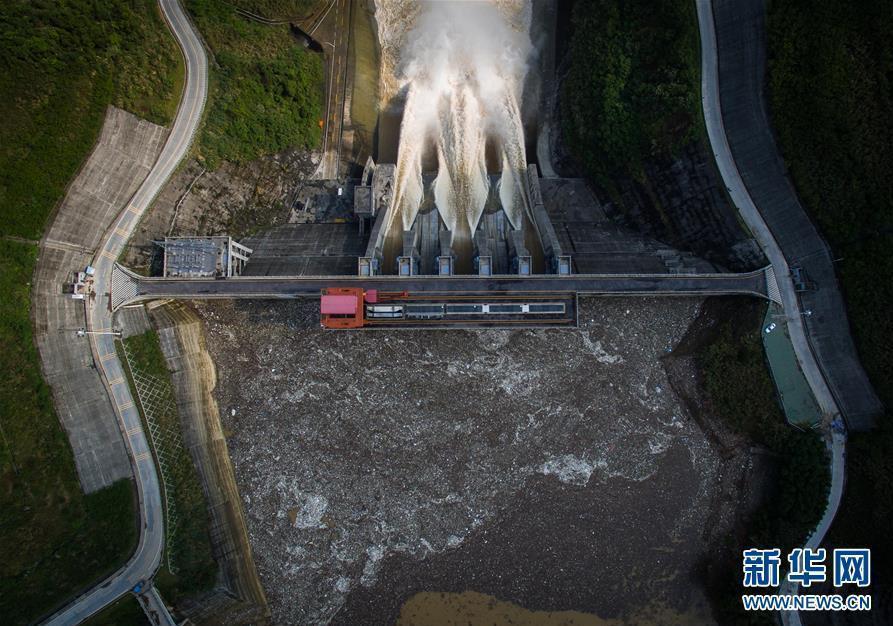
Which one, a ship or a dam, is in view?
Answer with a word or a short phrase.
dam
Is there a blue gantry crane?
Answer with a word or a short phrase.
No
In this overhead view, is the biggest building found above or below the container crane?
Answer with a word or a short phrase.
above it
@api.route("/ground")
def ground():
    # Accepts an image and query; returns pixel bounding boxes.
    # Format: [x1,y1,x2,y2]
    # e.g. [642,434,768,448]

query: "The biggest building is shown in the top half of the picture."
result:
[354,187,378,221]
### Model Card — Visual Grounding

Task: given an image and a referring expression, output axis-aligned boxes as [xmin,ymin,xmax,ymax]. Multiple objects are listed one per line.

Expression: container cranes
[320,289,407,329]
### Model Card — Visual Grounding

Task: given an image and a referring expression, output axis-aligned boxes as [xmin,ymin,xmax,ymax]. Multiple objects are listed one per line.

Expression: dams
[110,159,786,330]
